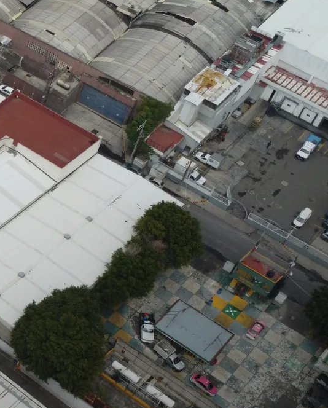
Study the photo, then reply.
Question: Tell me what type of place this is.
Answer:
industrial area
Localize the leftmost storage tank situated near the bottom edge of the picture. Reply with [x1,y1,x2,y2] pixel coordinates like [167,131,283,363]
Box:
[105,362,138,392]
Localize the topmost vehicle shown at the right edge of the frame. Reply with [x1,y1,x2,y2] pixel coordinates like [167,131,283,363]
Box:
[295,135,325,159]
